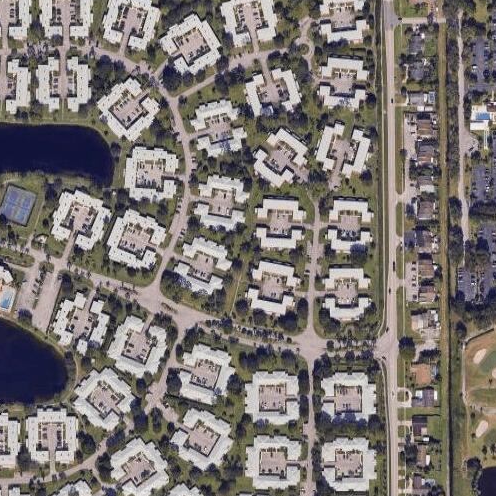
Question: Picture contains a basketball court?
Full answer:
No, no basketball court is visible in the view.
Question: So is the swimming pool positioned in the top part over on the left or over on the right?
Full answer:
The swimming pool positioned in the top part is on the right side of the image.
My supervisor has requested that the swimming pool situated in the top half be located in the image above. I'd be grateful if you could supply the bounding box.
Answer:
[471,105,496,129]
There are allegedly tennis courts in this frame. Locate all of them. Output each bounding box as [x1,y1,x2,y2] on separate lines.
[14,192,33,222]
[2,188,21,217]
